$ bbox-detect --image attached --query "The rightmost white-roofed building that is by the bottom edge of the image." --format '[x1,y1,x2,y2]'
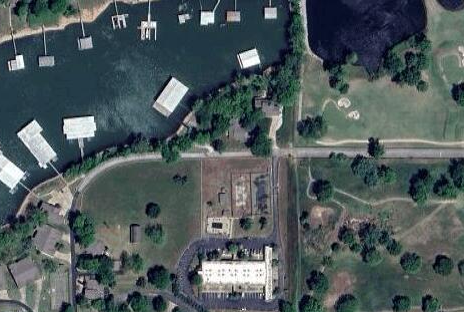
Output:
[198,245,274,298]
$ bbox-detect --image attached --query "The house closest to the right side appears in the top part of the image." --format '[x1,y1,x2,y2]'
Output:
[258,99,282,118]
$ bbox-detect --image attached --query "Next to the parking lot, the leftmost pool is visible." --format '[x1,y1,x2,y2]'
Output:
[207,217,230,234]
